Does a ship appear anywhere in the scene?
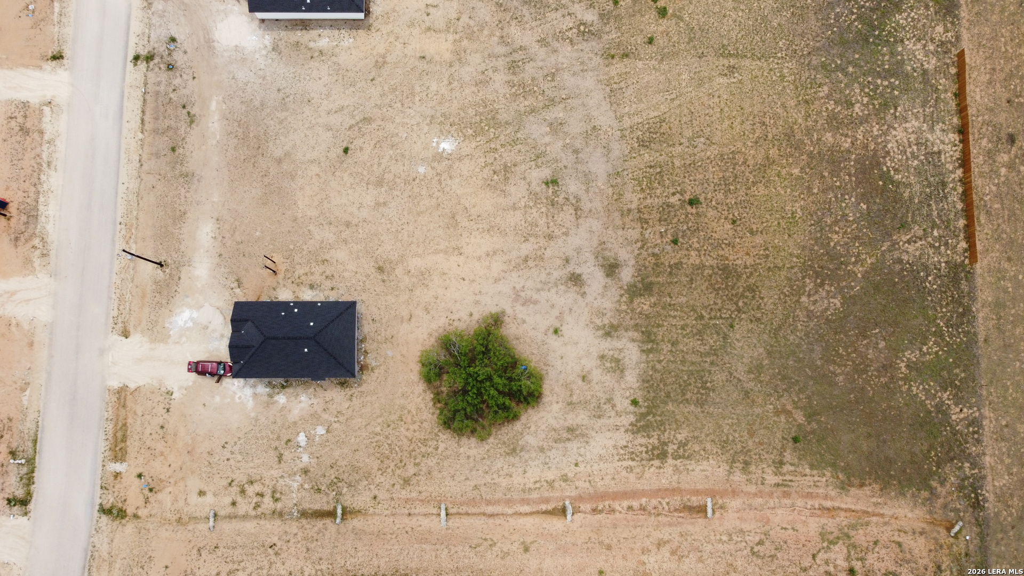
No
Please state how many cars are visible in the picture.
1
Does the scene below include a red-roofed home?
No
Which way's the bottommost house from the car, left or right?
to the right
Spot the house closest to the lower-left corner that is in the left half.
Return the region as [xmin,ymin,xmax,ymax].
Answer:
[228,301,358,381]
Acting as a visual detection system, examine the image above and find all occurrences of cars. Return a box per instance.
[182,359,232,384]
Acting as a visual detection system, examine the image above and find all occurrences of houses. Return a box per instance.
[228,301,358,381]
[248,0,365,20]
